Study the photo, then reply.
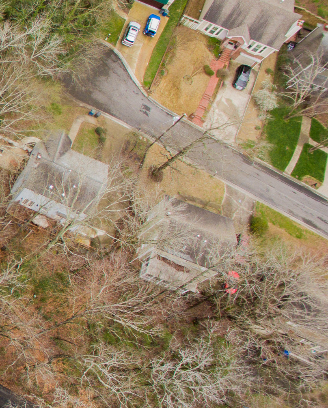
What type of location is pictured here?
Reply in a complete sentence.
This image shows a residential area.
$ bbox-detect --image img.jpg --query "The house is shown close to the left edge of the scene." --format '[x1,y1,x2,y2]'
[8,127,111,231]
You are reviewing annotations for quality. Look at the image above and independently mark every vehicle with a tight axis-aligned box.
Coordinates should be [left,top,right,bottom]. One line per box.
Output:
[122,21,141,45]
[234,65,250,89]
[144,13,160,37]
